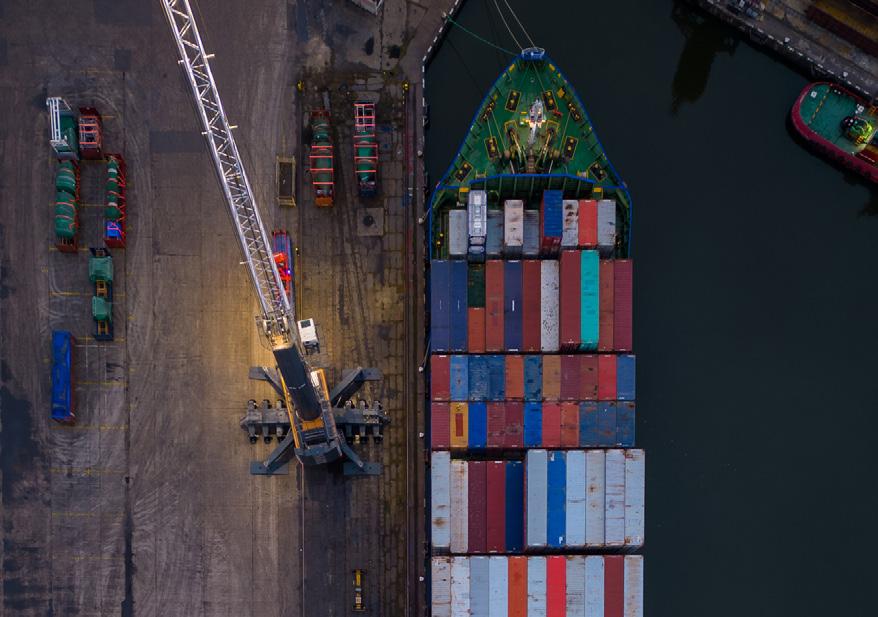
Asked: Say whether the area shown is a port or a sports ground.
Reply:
port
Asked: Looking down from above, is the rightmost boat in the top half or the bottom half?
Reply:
top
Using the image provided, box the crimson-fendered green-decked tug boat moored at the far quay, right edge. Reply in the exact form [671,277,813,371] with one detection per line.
[791,78,878,190]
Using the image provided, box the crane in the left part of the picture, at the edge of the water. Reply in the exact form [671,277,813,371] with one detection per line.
[156,0,388,475]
